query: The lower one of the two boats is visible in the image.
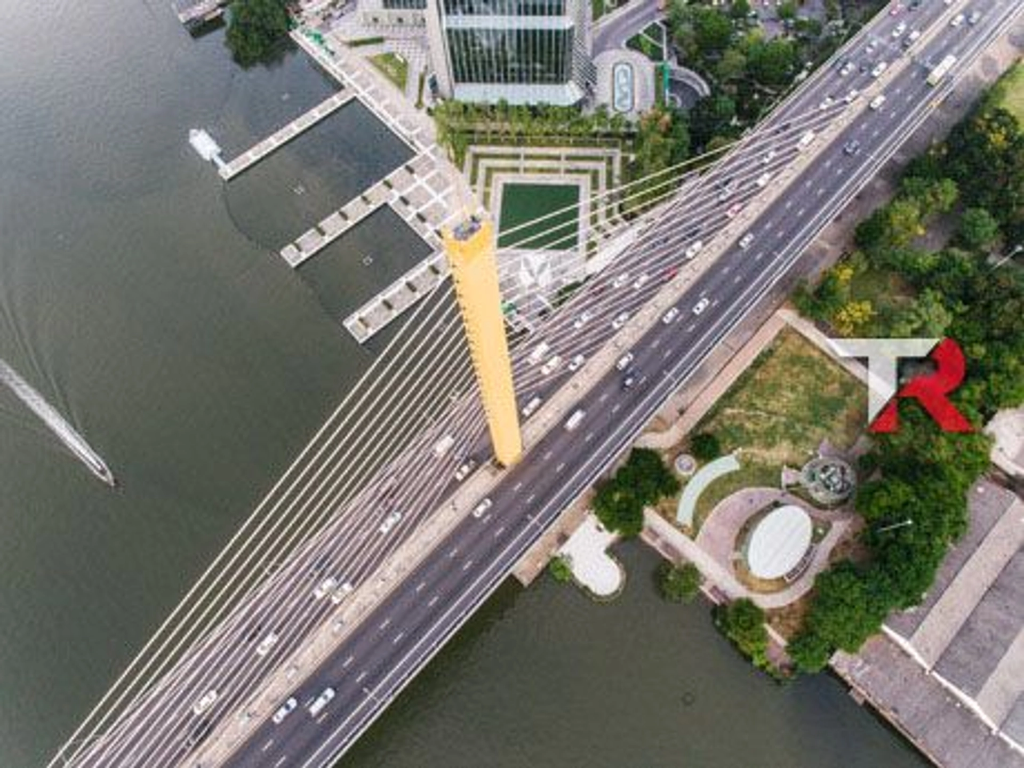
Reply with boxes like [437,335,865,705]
[89,455,115,486]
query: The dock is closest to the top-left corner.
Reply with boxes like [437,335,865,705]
[176,0,232,29]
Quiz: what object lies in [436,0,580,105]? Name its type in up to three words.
building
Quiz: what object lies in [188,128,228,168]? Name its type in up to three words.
boat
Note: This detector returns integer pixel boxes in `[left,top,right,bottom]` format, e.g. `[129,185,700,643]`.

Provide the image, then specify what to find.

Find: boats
[188,128,228,168]
[89,455,115,486]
